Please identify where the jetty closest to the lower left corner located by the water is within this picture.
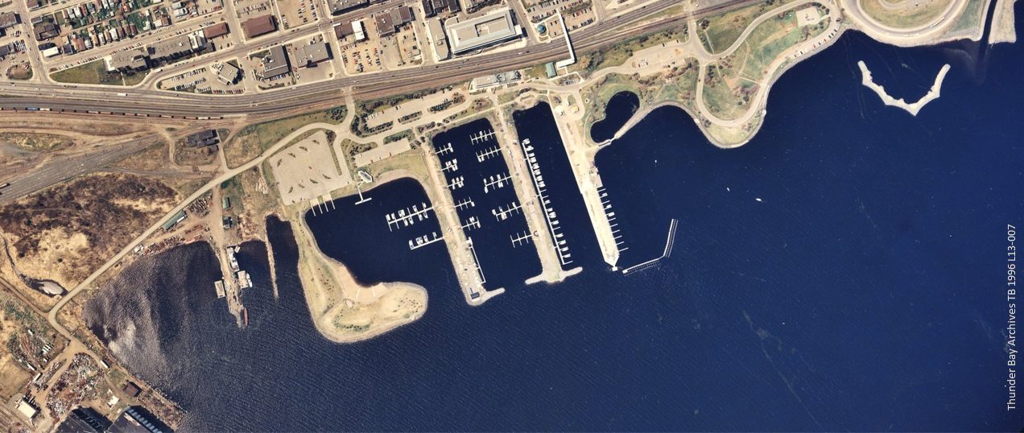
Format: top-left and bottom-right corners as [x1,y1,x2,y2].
[211,243,244,327]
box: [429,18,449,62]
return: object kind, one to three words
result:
building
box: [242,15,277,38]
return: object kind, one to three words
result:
building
